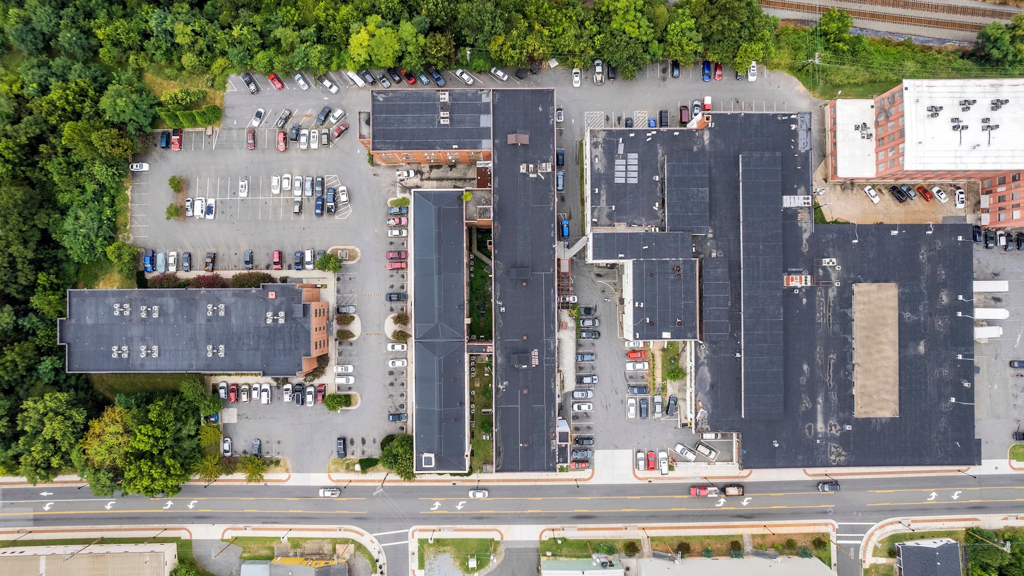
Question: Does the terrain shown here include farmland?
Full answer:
No, the picture contains no farmland.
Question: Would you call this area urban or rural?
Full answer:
The area shown here is urban.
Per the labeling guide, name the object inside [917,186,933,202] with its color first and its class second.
red car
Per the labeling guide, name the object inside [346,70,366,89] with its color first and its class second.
white vehicle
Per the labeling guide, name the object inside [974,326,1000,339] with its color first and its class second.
white vehicle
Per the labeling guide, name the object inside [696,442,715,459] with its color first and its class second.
white car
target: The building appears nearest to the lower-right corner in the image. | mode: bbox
[890,536,959,576]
